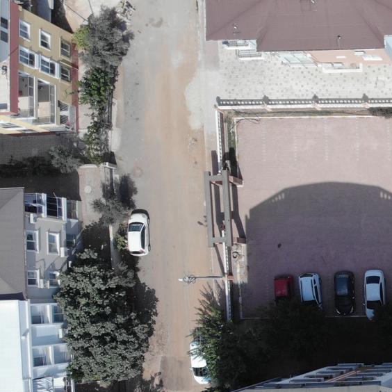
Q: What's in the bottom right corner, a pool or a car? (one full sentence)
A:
Looking in the bottom right corner, you will find a car.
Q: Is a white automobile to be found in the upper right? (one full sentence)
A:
No, there is no white automobile in the upper right.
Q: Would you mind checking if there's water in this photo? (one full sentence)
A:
No, water can't be seen anywhere here.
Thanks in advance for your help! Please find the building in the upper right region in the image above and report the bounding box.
[205,0,392,76]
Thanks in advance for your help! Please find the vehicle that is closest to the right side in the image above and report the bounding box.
[359,267,383,319]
